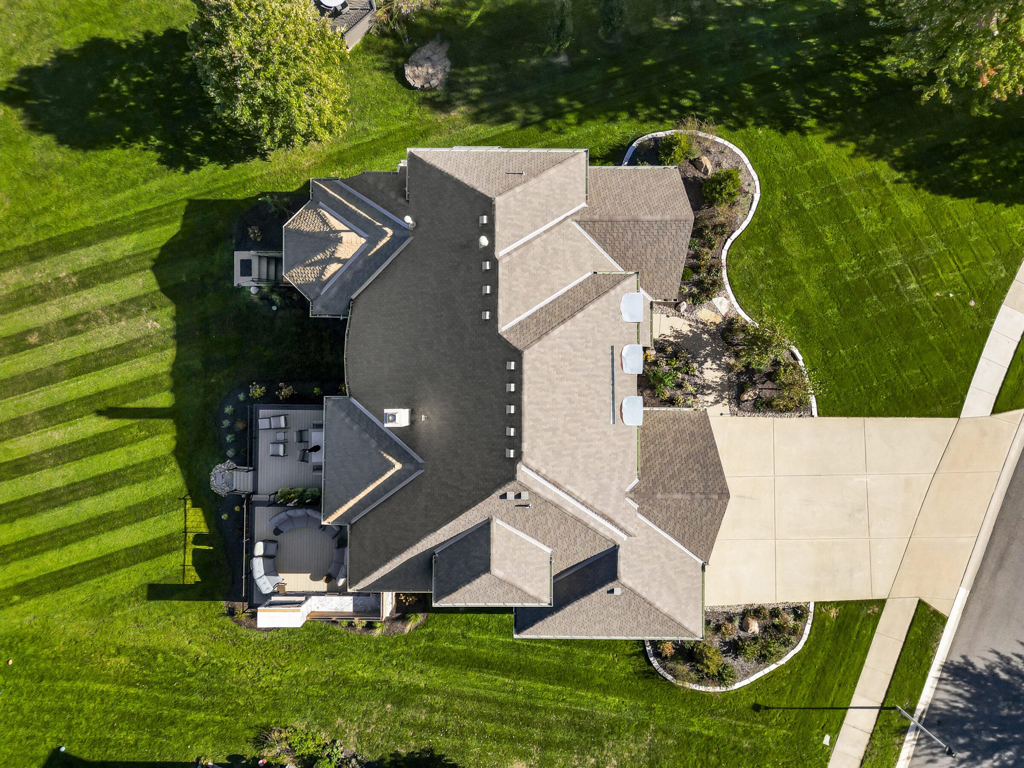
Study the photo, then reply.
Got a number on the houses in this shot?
one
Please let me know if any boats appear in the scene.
No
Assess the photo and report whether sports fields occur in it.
No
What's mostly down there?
grass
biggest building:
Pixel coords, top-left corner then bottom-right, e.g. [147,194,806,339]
[281,145,730,642]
